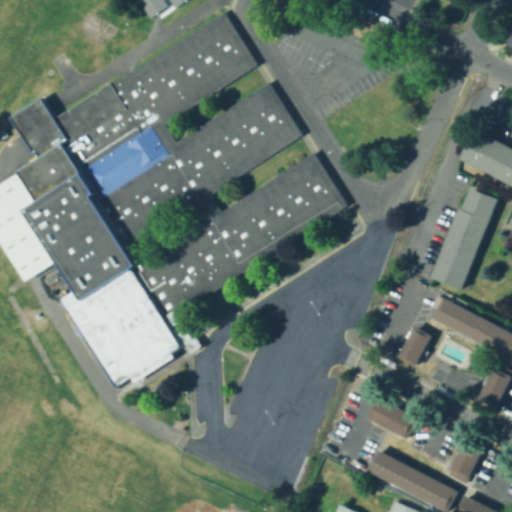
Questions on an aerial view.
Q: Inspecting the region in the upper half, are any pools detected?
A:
No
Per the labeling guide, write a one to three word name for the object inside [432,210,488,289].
building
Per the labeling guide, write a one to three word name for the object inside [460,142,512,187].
building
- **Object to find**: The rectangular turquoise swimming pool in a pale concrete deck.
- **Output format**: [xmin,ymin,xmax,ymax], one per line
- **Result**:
[436,335,476,370]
